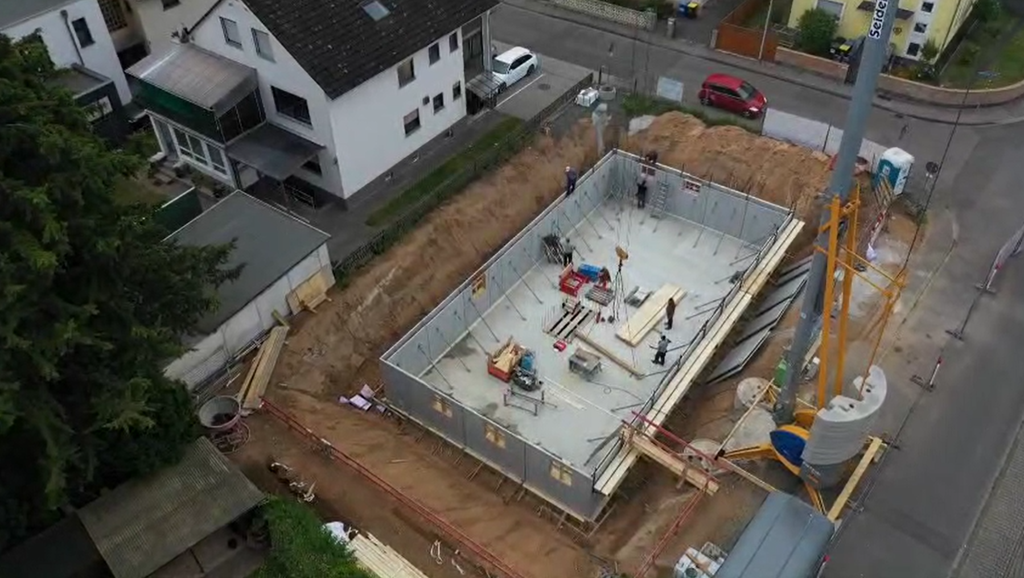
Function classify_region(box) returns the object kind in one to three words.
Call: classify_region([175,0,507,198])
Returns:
house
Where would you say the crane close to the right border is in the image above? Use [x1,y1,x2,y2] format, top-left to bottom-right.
[710,0,979,517]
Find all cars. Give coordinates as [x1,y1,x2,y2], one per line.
[485,49,534,94]
[705,76,772,116]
